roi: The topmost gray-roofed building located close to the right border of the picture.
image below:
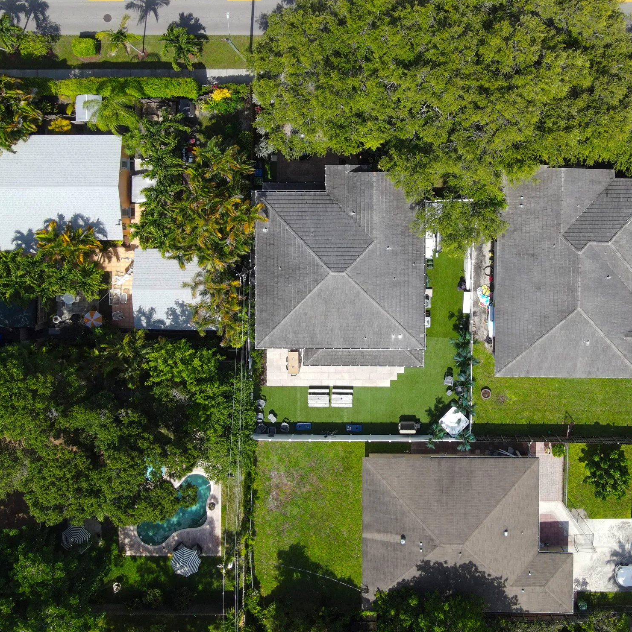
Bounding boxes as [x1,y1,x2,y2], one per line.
[491,168,632,379]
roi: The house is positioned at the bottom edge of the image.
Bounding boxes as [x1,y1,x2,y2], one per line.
[361,452,574,614]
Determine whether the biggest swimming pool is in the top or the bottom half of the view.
bottom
